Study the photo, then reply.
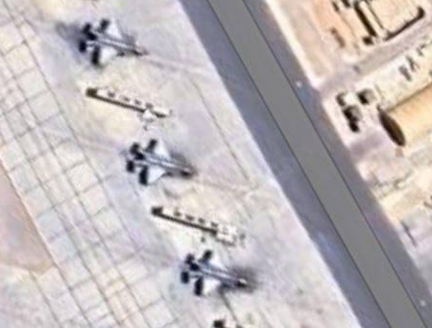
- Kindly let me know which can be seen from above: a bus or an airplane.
airplane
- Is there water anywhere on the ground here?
No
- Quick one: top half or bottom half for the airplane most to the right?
bottom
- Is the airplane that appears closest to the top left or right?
left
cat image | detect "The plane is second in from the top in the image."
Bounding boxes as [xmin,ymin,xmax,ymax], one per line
[136,142,197,184]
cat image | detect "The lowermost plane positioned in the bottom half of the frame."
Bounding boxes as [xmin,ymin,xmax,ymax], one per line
[190,253,252,295]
